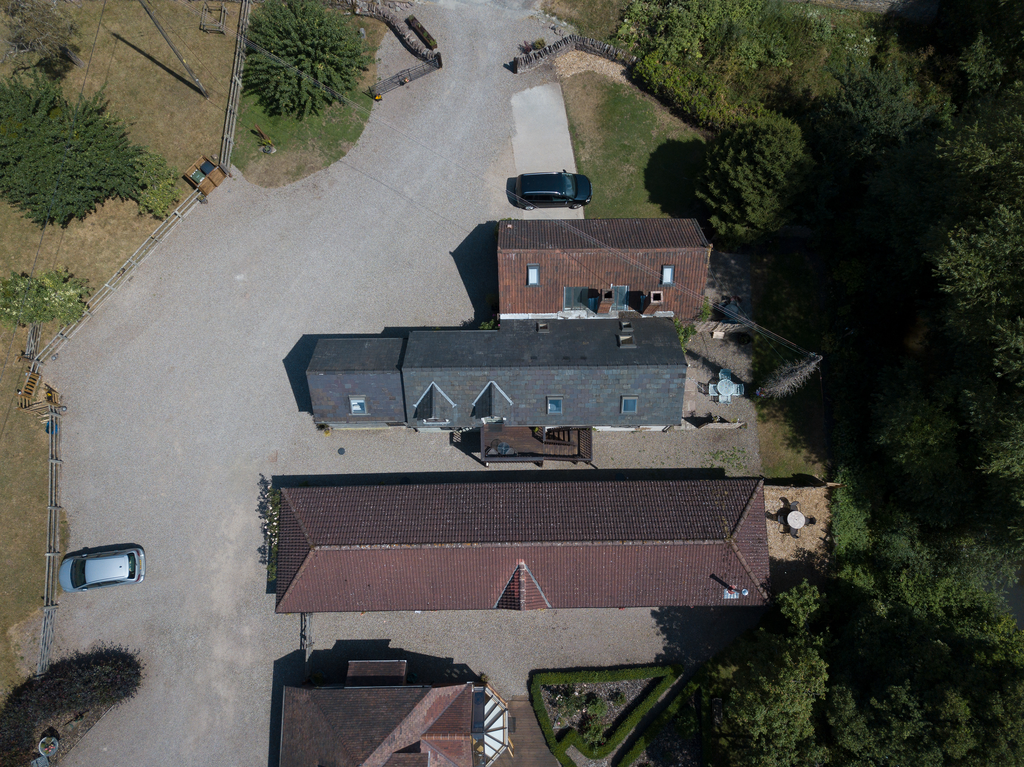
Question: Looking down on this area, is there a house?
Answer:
Yes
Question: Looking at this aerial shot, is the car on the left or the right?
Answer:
left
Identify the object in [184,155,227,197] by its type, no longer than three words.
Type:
building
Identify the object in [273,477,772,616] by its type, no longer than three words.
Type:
house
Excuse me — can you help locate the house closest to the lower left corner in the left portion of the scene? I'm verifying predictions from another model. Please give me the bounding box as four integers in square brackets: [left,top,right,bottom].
[279,658,478,767]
